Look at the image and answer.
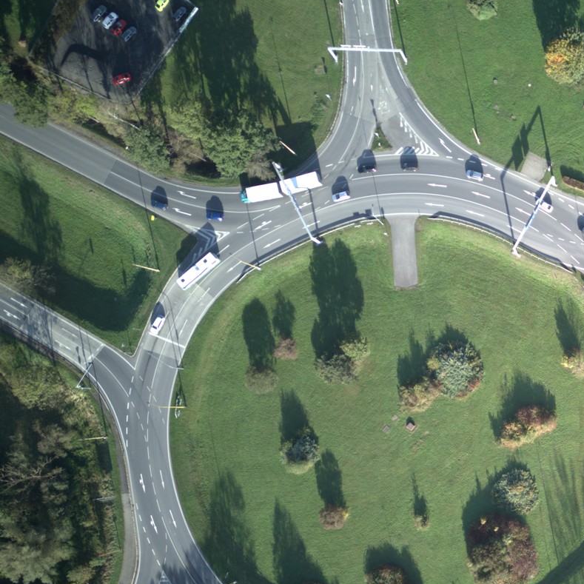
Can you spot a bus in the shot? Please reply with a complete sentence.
Yes, there's a bus here.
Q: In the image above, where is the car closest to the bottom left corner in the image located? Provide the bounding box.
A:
[148,312,163,332]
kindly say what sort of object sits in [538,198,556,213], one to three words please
car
